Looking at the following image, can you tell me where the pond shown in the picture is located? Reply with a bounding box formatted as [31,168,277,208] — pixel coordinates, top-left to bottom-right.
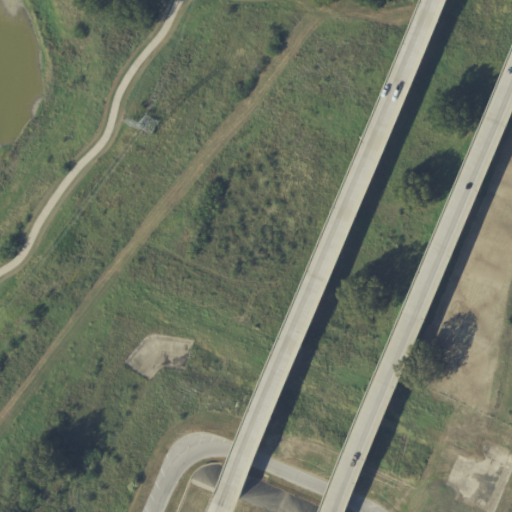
[0,0,45,146]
